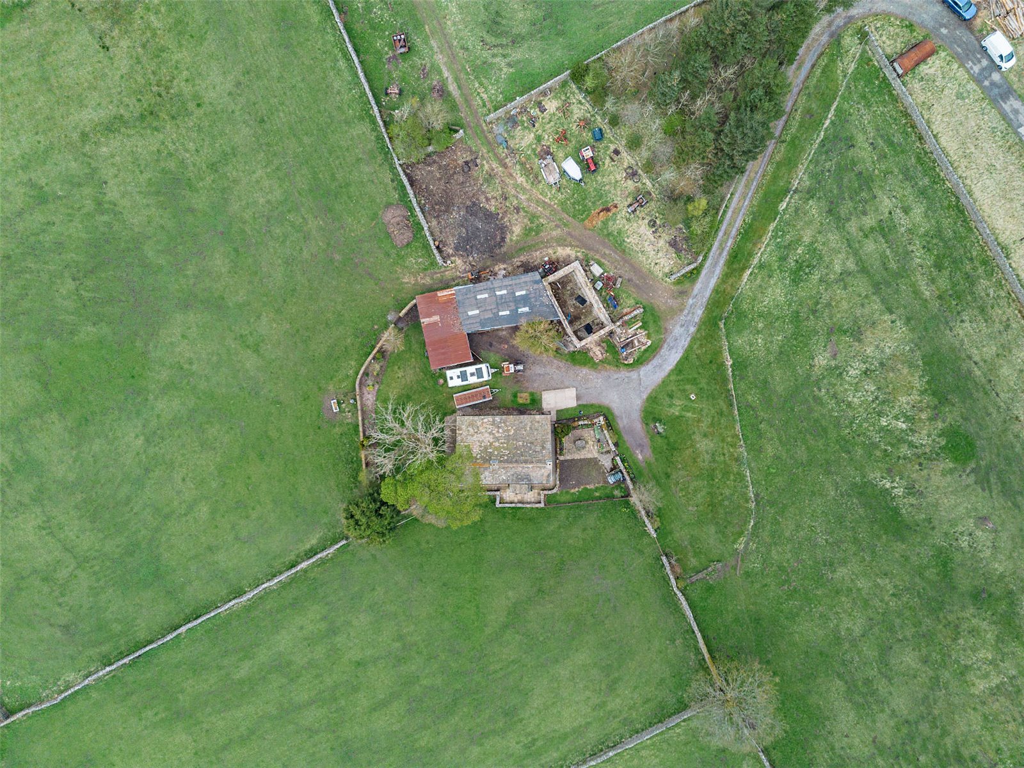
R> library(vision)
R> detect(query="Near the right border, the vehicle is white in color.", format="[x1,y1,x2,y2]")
[981,30,1014,71]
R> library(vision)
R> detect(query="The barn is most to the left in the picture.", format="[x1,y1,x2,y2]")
[416,288,474,369]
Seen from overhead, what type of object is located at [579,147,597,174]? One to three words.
work vehicle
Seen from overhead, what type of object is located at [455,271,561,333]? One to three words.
barn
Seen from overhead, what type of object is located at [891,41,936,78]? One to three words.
trailer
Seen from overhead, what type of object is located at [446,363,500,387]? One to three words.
camper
